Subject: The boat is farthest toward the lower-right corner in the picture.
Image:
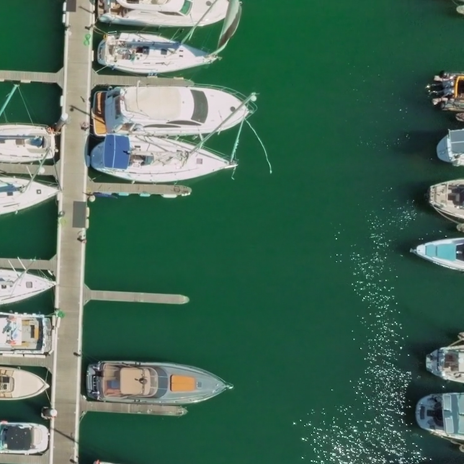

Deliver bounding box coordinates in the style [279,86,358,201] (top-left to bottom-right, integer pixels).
[411,394,464,442]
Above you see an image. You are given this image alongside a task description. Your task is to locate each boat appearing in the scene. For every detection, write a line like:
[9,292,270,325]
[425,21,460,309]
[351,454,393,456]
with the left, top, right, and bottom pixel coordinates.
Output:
[0,159,60,215]
[422,76,464,110]
[83,364,240,406]
[93,0,233,28]
[412,241,464,271]
[431,128,464,165]
[0,310,49,355]
[422,181,464,219]
[421,348,464,385]
[0,264,57,306]
[0,420,48,455]
[87,112,269,185]
[91,79,262,137]
[411,394,464,442]
[0,85,55,166]
[94,0,247,76]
